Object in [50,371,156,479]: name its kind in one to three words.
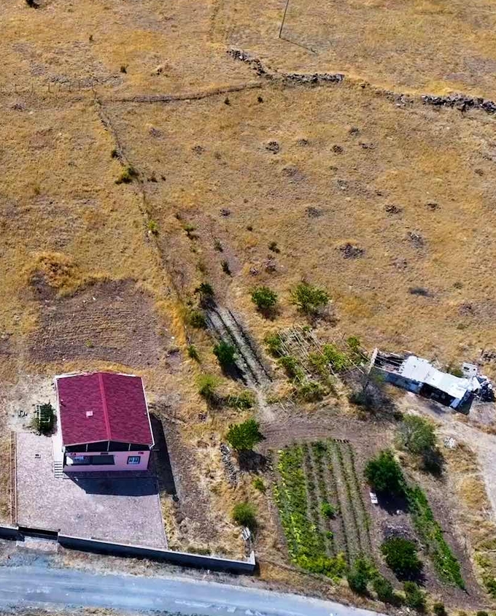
house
